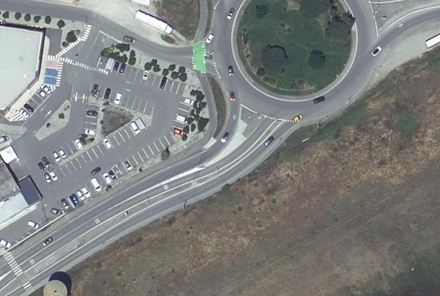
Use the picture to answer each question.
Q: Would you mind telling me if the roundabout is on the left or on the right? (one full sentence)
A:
The roundabout appears in the right half of the scene.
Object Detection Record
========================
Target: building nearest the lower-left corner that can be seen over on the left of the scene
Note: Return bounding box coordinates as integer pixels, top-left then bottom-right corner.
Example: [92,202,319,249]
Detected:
[0,192,29,222]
